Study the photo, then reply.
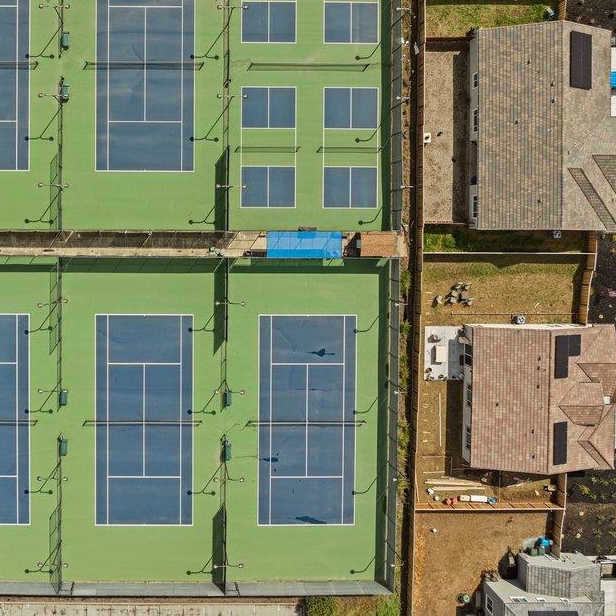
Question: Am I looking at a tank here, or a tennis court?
tennis court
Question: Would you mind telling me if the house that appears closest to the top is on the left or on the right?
right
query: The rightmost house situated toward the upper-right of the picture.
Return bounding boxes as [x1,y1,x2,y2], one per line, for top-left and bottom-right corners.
[470,20,616,231]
